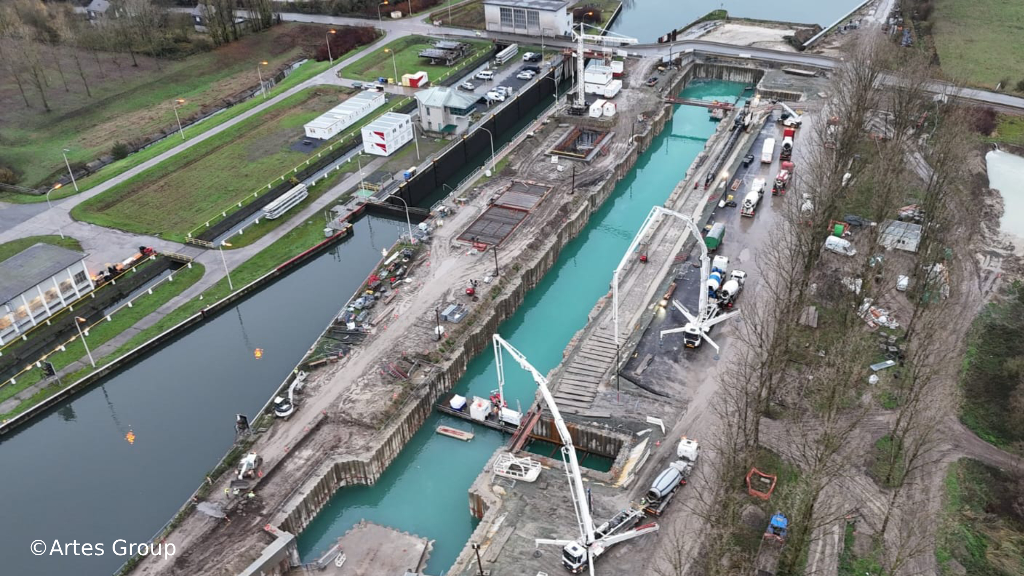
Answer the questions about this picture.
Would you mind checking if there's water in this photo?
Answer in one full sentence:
Yes, water can be seen from above here.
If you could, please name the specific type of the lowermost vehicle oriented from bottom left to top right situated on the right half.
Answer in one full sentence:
Specifically, the lowermost vehicle oriented from bottom left to top right situated on the right half is a truck.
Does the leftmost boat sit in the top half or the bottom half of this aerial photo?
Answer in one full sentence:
The bottom half of the photo is where the leftmost boat is.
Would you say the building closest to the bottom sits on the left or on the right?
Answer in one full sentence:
You can find the building closest to the bottom on the left side of the picture.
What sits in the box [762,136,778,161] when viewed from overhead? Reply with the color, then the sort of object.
white vehicle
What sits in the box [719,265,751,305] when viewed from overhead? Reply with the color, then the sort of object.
white truck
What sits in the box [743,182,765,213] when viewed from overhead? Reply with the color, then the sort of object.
white truck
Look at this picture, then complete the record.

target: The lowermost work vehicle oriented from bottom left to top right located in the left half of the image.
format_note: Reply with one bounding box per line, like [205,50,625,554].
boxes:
[225,452,262,495]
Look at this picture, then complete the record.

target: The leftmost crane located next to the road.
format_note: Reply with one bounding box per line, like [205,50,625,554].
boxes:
[562,22,639,116]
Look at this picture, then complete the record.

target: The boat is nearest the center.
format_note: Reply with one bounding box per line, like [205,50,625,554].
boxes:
[436,423,474,443]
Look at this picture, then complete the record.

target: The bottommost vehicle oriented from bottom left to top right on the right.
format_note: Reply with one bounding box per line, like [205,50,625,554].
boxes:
[644,438,700,512]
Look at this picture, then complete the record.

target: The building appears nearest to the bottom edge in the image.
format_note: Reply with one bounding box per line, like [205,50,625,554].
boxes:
[0,241,98,346]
